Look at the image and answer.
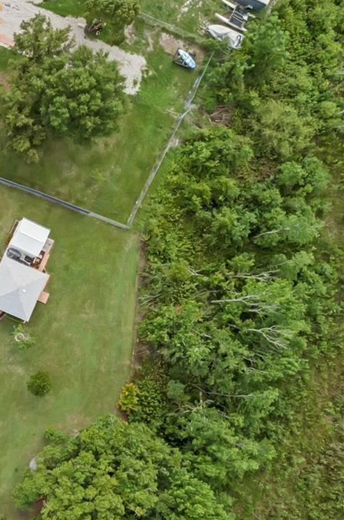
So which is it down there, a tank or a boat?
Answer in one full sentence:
Looking from above, you can make out a boat.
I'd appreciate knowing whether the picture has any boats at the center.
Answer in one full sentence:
No, there is no boat at the center.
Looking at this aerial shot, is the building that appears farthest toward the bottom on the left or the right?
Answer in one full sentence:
The building that appears farthest toward the bottom appears in the left half of the scene.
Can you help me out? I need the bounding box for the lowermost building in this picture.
[0,255,48,322]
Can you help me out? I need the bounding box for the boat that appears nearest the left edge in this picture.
[178,48,195,66]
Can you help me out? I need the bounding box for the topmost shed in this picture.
[8,217,51,257]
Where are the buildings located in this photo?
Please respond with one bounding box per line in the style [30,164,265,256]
[8,217,51,257]
[0,255,48,322]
